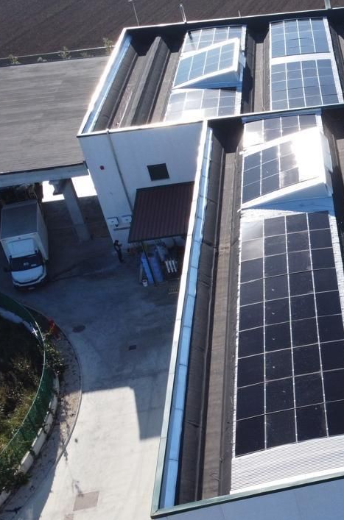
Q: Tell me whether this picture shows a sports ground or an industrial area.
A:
industrial area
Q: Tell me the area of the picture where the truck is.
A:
left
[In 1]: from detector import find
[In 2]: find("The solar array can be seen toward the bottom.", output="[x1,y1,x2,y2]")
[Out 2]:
[231,211,344,459]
